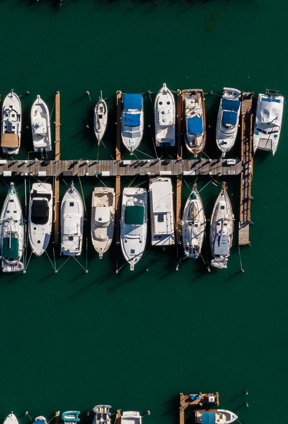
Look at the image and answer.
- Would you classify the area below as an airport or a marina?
marina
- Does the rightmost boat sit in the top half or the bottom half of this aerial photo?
top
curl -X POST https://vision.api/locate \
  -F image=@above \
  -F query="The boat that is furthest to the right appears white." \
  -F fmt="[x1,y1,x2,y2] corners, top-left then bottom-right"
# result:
[252,88,287,157]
